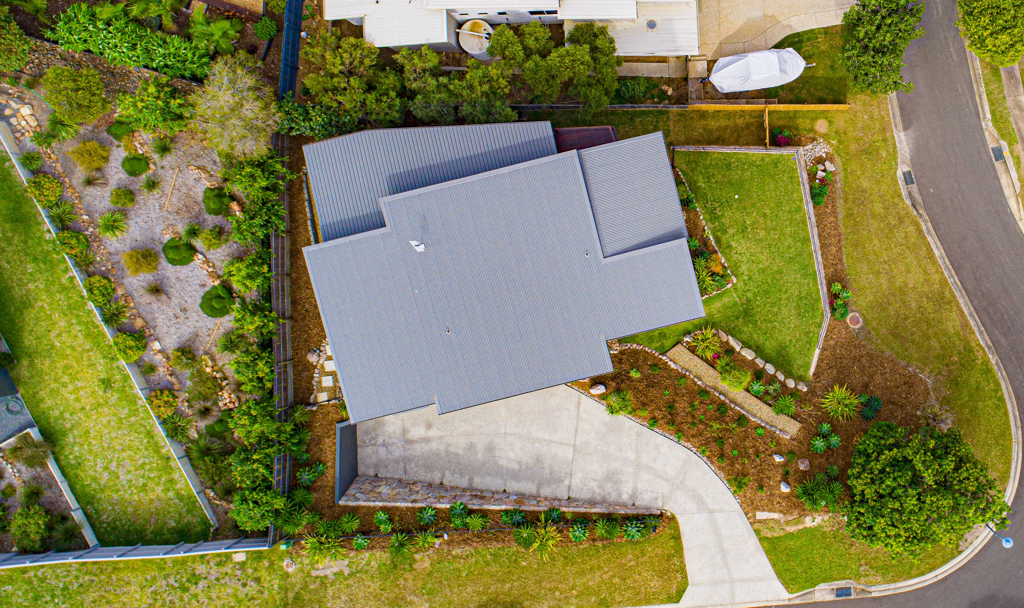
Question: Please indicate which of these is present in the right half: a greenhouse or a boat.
boat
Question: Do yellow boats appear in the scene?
No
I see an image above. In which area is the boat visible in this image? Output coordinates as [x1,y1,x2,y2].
[699,48,817,94]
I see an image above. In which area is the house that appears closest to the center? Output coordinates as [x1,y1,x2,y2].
[302,119,706,427]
